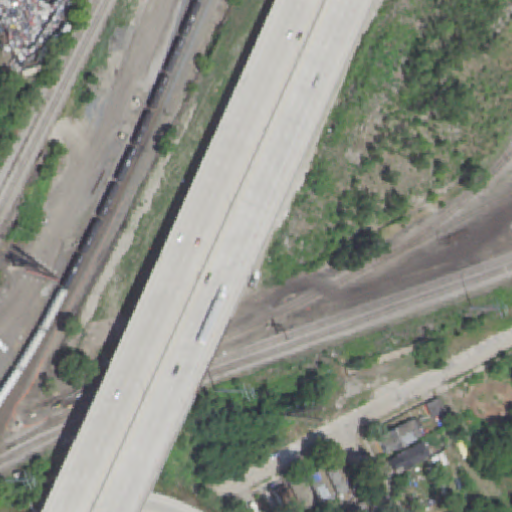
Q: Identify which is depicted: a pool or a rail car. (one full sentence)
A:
Of the two, only a rail car appears.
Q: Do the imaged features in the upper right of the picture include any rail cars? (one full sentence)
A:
No, I see no rail car in the upper right of the picture.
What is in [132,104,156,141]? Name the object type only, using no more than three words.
rail car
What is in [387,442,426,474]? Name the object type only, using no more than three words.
house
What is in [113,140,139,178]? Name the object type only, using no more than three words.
rail car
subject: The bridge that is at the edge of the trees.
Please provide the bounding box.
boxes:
[40,0,382,512]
